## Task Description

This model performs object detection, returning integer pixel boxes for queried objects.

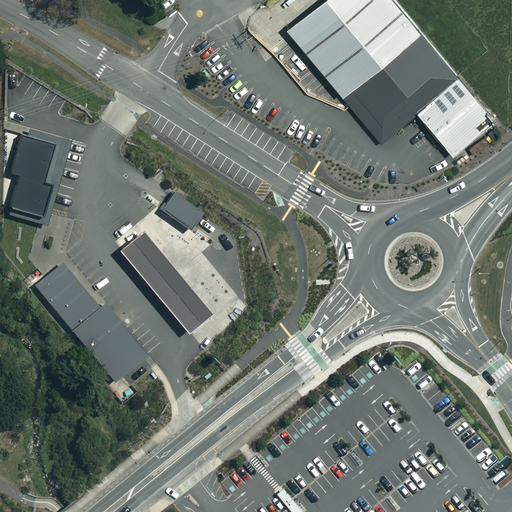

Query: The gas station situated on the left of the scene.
[120,232,213,334]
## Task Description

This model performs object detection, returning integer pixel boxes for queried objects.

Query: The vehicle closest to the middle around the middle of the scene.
[218,234,232,250]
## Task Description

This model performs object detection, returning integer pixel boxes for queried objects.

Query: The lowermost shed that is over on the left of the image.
[74,304,149,382]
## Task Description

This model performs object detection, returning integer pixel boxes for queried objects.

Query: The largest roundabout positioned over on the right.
[356,204,472,320]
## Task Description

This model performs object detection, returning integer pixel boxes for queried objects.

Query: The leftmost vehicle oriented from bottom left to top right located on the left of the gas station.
[94,276,111,291]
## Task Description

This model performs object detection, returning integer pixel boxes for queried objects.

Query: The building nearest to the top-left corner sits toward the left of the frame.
[10,130,71,226]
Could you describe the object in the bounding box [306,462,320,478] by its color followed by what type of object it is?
white car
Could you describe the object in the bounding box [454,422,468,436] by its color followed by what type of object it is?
white vehicle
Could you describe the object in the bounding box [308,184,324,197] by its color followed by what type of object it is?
gray vehicle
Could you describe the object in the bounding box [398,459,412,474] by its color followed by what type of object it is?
white vehicle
